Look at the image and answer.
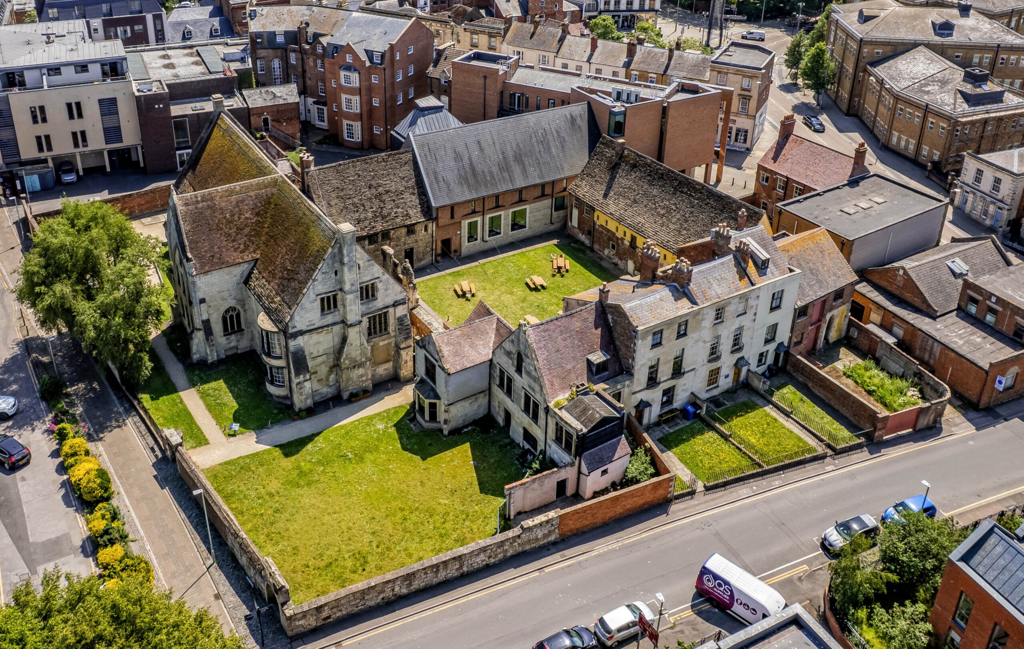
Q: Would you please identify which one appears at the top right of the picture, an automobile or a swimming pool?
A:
automobile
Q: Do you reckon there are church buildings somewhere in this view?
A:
Yes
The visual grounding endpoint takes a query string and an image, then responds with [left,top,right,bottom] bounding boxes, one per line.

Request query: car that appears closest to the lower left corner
[0,432,30,468]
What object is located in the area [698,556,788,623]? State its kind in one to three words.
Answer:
van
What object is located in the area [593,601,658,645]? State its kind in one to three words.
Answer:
car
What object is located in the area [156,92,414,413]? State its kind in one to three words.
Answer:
church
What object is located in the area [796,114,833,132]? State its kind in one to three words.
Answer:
car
